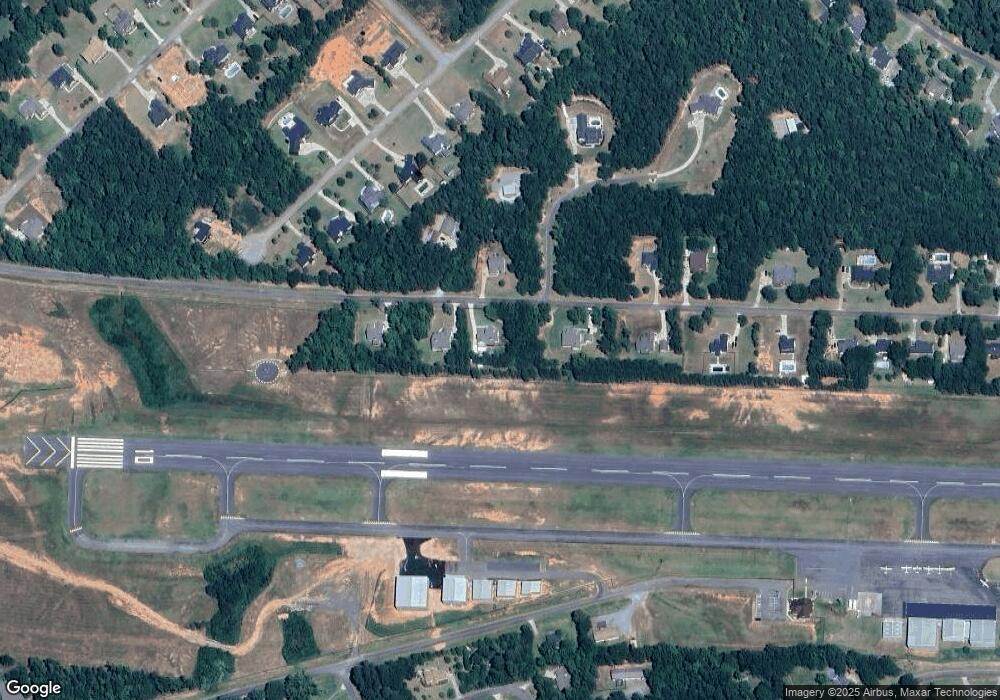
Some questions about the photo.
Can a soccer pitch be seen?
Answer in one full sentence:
No, there is no soccer pitch in the image.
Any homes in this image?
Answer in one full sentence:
Yes, you can see a home in this photo.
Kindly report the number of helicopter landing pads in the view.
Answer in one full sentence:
No helicopter landing pads are visible.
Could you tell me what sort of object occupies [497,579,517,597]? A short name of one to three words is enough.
hangar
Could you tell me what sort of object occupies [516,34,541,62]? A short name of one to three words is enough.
house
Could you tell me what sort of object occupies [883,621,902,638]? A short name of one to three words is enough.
building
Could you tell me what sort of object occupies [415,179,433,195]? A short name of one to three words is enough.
swimming pool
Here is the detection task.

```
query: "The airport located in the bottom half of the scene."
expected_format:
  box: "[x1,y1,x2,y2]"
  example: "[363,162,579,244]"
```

[23,435,1000,622]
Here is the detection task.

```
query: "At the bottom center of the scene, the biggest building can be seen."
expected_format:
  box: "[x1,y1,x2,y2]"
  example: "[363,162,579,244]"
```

[396,575,429,609]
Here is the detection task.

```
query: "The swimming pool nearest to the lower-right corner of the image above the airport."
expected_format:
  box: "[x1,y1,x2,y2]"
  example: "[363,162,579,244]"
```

[779,359,797,373]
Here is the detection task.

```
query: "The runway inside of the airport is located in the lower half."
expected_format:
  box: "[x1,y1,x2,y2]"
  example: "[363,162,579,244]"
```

[23,435,1000,498]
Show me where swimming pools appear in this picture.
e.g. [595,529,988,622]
[857,255,876,266]
[710,364,726,373]
[415,179,433,195]
[716,87,728,99]
[932,252,950,263]
[278,113,293,129]
[779,359,797,373]
[588,117,603,128]
[382,210,393,222]
[225,62,241,77]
